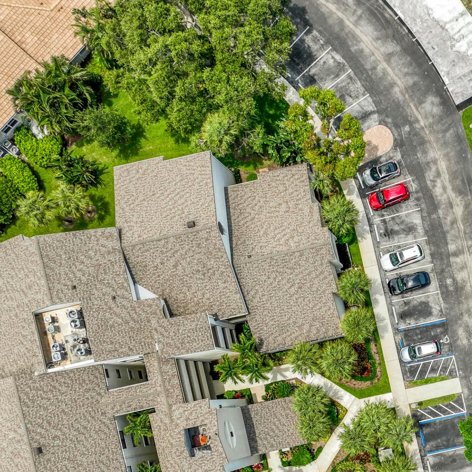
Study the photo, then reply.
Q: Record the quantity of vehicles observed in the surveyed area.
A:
5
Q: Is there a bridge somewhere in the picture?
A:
No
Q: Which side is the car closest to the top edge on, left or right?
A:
right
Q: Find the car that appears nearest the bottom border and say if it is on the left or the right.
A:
right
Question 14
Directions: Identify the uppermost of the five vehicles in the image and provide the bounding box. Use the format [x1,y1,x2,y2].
[362,161,403,188]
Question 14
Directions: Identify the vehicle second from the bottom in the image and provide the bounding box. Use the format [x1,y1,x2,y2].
[388,271,432,297]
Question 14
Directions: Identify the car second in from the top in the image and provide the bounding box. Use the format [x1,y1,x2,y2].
[369,185,412,213]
